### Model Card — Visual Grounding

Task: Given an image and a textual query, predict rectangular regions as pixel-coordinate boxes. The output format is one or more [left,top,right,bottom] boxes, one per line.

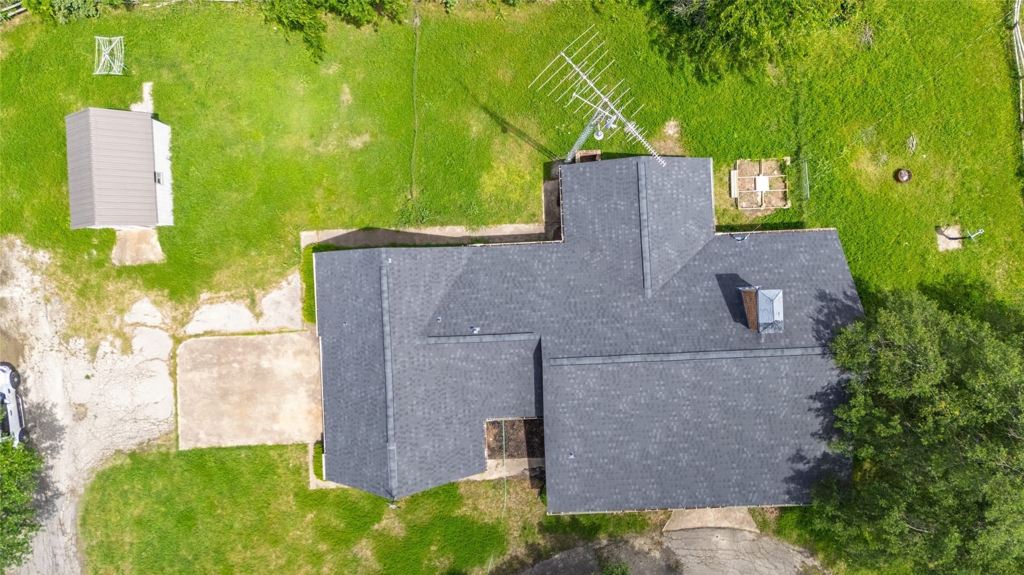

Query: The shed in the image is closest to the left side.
[64,107,176,231]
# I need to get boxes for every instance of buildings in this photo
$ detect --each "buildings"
[64,107,176,231]
[312,155,873,517]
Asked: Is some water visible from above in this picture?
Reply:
No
